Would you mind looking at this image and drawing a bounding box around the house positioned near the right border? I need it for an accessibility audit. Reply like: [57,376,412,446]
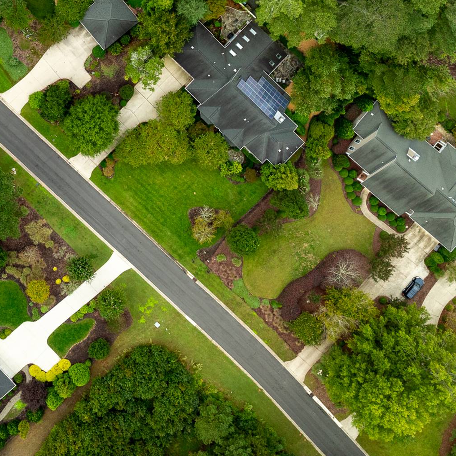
[347,98,456,252]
